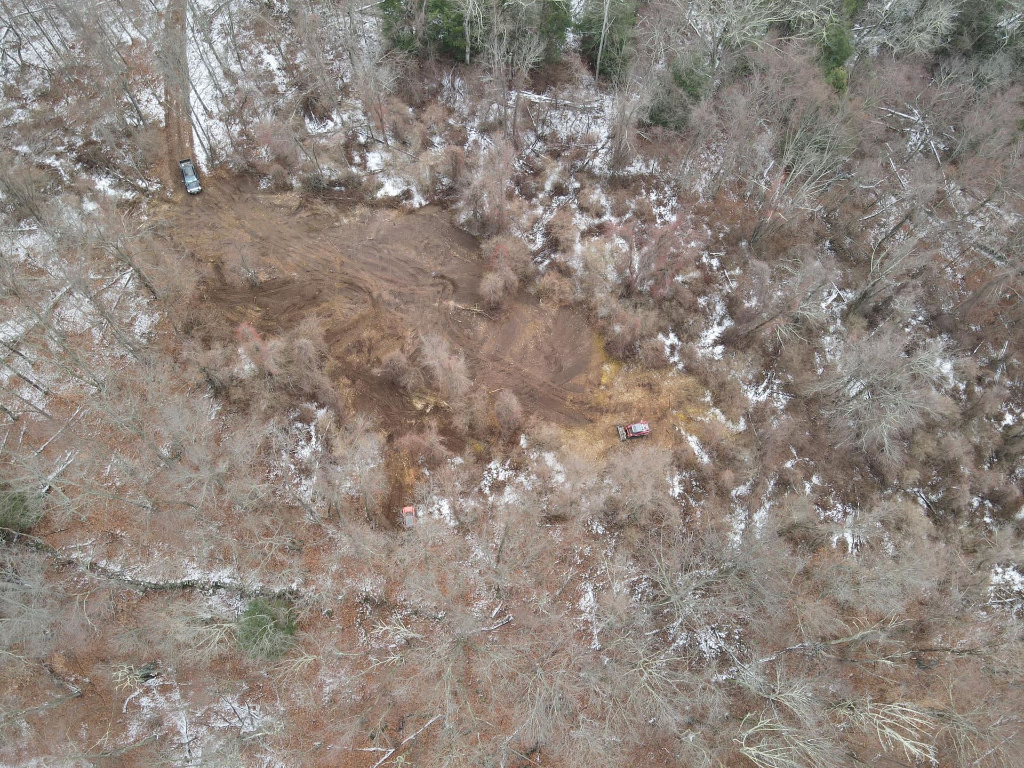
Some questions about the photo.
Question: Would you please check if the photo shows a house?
No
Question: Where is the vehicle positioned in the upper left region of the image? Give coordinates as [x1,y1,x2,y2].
[176,155,202,196]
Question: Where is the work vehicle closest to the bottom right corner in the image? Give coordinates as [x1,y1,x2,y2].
[616,421,649,443]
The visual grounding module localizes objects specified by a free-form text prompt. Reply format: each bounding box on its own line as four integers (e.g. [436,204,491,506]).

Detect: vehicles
[401,504,418,528]
[616,421,649,443]
[176,155,202,196]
